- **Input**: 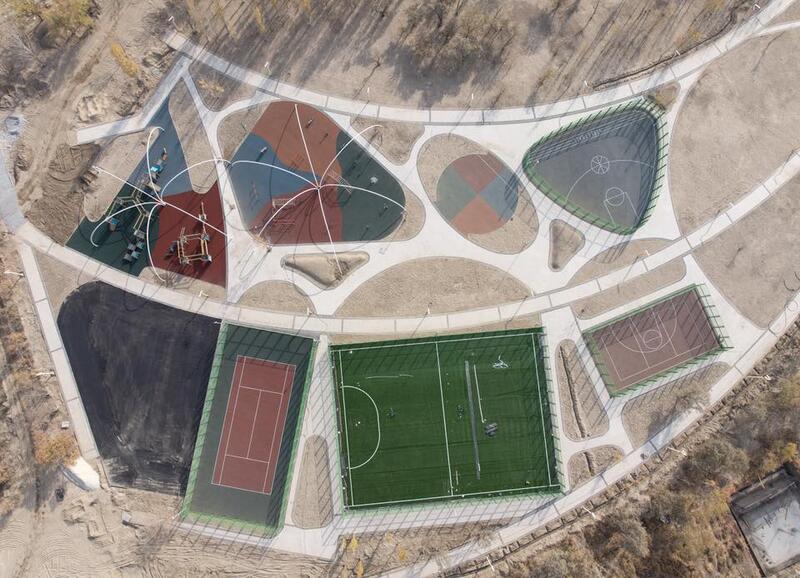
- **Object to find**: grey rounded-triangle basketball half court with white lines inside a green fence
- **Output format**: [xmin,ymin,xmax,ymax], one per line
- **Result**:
[523,108,659,234]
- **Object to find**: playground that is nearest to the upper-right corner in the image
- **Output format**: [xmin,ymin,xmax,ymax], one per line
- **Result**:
[438,154,518,234]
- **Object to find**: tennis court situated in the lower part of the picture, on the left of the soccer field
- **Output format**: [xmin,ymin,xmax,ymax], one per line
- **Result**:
[191,324,317,527]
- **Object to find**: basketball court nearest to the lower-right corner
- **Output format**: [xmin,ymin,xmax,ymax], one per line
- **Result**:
[583,286,719,394]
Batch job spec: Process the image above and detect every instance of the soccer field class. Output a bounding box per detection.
[330,326,561,509]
